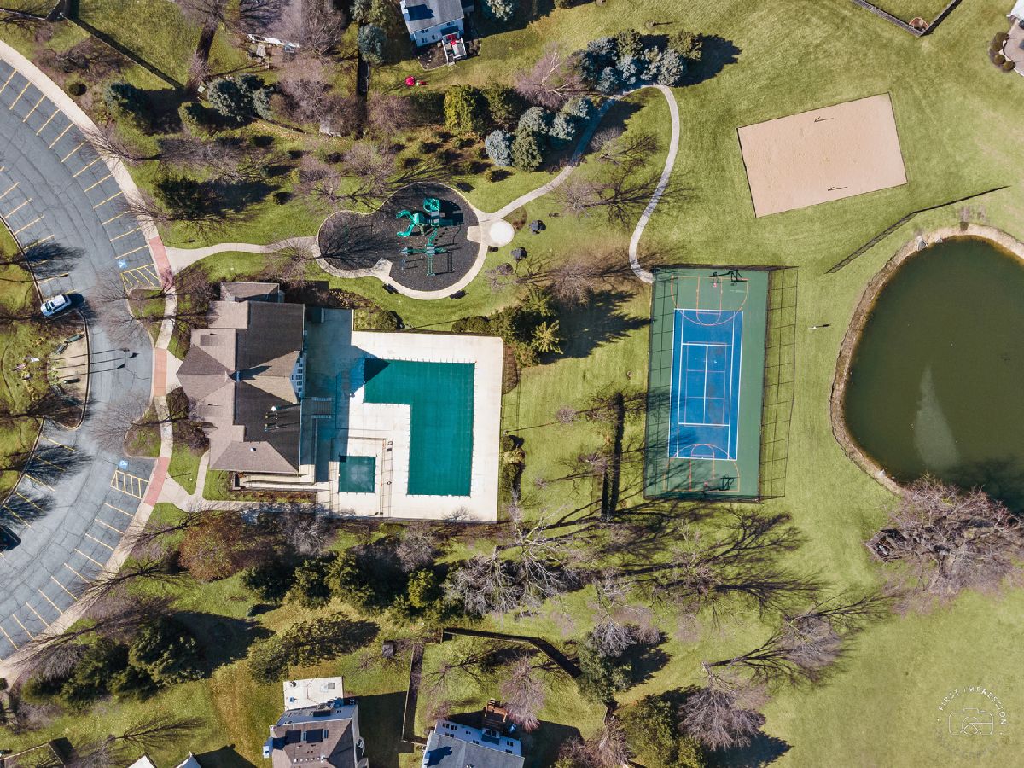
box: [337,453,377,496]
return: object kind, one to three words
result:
swimming pool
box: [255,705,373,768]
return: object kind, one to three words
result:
house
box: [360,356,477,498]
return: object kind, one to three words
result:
swimming pool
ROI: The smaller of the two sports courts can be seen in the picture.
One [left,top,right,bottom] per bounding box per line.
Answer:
[738,92,908,217]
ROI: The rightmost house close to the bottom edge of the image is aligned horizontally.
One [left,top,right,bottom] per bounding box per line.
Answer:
[416,719,522,768]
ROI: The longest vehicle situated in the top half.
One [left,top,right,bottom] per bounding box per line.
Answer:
[38,294,71,315]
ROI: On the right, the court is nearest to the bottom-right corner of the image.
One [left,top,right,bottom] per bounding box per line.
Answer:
[644,268,770,500]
